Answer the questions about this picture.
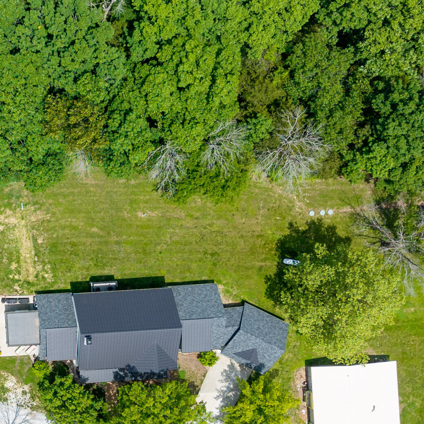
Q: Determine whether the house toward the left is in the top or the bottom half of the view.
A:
bottom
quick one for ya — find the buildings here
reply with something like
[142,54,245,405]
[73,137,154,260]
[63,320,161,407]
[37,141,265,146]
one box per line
[304,362,400,424]
[36,281,288,382]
